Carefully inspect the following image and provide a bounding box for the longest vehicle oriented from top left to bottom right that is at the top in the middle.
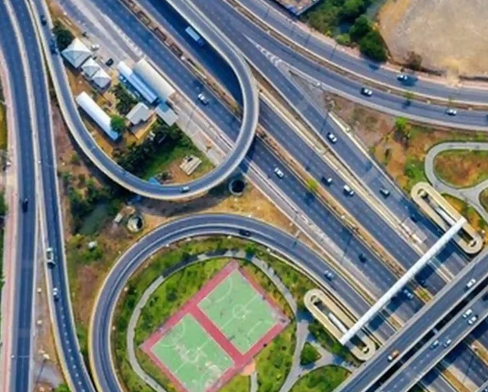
[183,24,203,43]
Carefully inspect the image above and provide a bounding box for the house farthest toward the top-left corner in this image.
[62,38,96,69]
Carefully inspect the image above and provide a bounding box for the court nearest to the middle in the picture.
[189,261,290,363]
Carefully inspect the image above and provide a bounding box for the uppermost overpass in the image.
[29,0,259,199]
